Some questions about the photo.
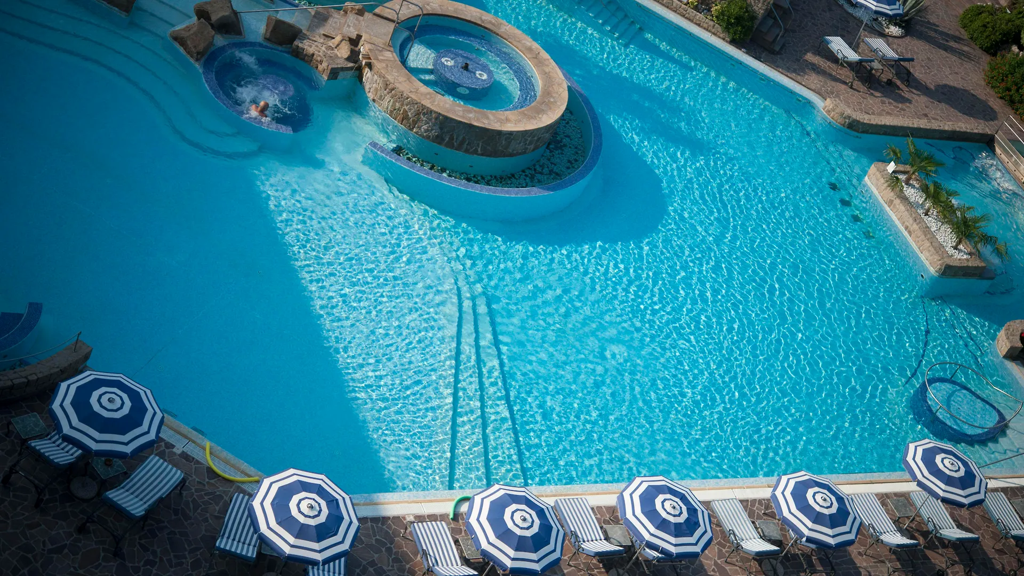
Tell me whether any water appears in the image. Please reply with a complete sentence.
Yes, some water is visible.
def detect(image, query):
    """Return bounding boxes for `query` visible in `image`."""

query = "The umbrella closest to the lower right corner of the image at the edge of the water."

[896,439,987,537]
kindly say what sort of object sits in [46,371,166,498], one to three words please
umbrella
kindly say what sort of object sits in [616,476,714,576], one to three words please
umbrella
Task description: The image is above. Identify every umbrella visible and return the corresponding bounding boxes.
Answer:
[247,468,361,576]
[766,471,862,576]
[463,483,566,576]
[896,439,987,537]
[46,371,166,498]
[843,0,904,49]
[616,476,714,576]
